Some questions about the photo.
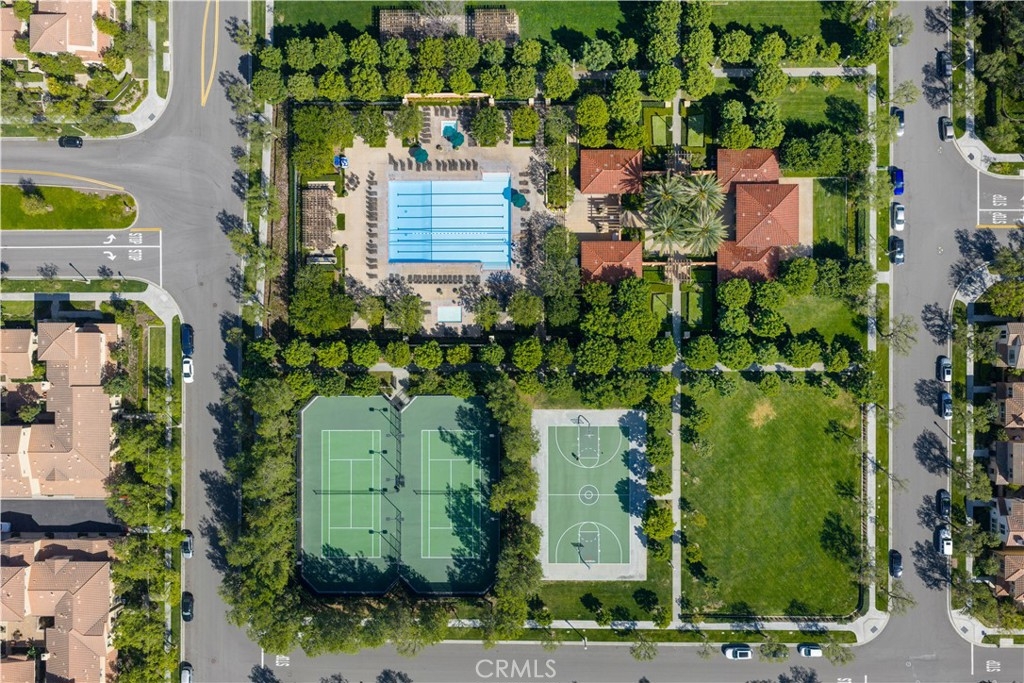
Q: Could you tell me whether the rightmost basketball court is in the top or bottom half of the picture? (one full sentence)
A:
Seen from above, the rightmost basketball court lies in the bottom half of the view.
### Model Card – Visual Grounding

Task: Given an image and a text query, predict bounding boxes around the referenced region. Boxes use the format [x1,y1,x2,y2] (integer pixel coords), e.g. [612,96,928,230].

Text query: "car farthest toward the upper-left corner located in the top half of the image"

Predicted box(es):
[56,134,83,147]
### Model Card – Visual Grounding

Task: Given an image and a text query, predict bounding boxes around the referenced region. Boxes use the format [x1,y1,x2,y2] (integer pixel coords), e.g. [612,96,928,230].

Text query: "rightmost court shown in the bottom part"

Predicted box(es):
[532,409,647,580]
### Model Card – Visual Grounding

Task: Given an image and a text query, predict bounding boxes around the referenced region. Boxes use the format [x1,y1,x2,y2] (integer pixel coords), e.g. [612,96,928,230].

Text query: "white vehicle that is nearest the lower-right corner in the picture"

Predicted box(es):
[938,526,954,558]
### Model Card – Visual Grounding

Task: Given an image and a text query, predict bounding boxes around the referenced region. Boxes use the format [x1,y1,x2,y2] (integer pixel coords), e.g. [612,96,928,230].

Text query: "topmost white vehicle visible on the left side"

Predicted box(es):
[180,358,194,383]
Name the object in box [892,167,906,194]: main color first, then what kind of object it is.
blue car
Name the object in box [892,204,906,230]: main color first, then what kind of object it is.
white car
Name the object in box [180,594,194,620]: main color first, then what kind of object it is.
black car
